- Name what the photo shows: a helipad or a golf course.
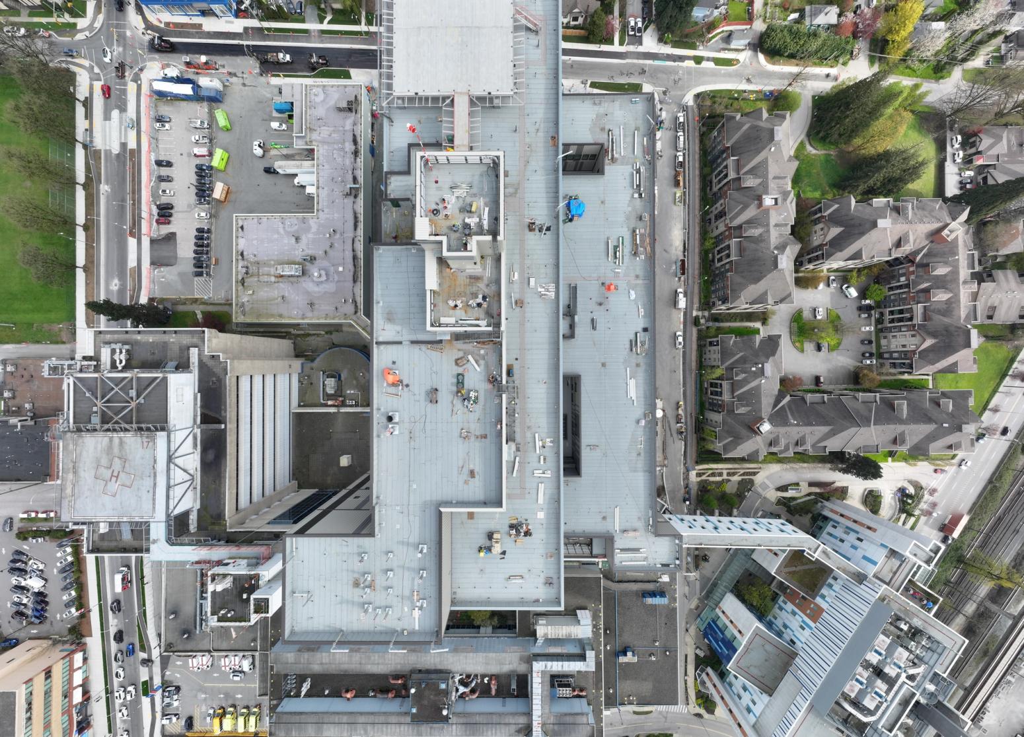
helipad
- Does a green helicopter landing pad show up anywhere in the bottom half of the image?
No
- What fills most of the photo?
buildings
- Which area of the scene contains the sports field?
top left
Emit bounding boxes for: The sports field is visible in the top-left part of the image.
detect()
[0,68,75,326]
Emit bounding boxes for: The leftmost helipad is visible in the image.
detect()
[52,424,274,562]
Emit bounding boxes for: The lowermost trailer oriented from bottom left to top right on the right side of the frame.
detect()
[935,503,972,546]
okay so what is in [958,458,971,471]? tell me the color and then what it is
white vehicle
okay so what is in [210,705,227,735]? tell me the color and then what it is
yellow vehicle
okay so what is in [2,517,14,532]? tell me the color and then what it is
gray vehicle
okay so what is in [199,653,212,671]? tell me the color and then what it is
white vehicle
